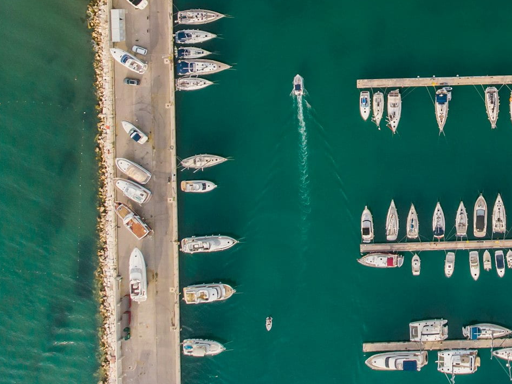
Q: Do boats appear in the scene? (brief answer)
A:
Yes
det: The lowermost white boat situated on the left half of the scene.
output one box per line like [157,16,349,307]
[181,342,225,359]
